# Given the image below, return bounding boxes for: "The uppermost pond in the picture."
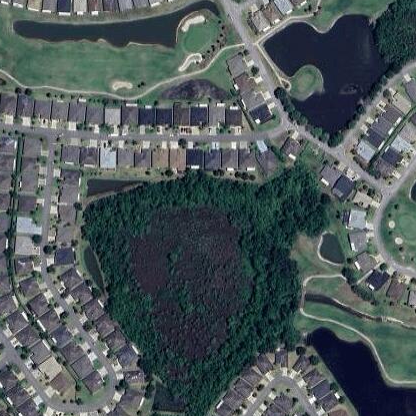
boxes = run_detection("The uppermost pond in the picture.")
[13,0,220,48]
